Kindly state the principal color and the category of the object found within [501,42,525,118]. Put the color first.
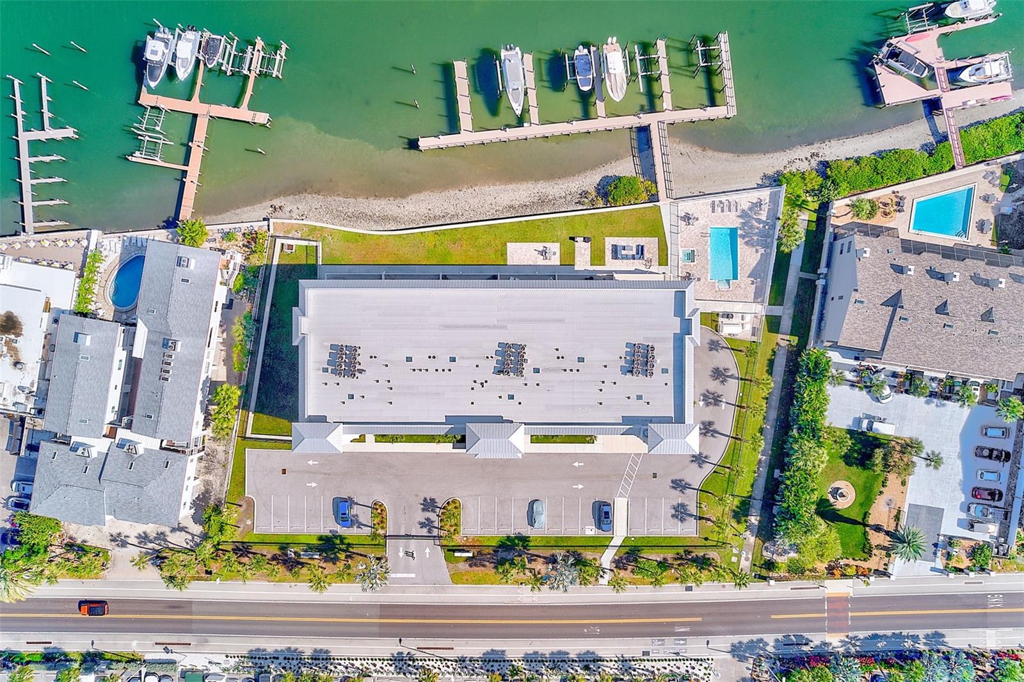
white boat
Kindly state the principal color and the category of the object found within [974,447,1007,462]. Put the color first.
black car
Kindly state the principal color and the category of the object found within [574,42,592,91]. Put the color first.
blue boat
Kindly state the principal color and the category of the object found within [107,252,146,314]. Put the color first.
blue swimming pool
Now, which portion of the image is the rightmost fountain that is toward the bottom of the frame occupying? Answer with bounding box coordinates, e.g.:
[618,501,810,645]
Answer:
[828,480,855,507]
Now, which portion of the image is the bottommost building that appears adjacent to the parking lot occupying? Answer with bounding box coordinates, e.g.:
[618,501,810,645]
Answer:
[30,427,205,528]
